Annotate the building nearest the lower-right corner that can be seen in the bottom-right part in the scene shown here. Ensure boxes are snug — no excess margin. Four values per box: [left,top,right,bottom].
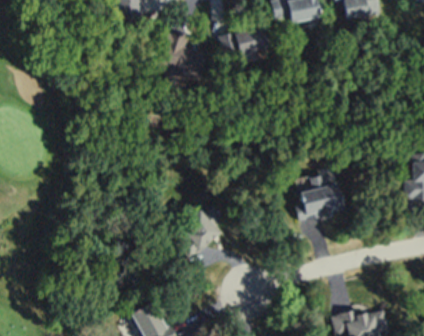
[328,308,388,336]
